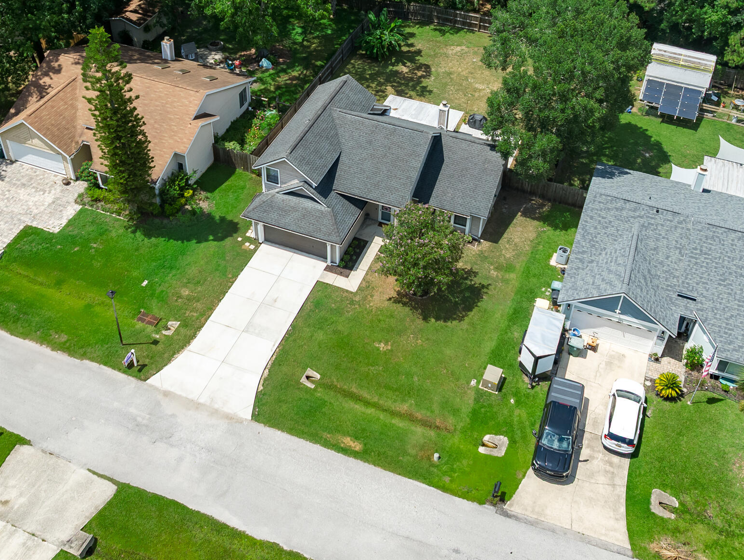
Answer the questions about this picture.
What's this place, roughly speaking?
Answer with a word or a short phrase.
residential area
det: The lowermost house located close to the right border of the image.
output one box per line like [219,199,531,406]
[557,161,744,384]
